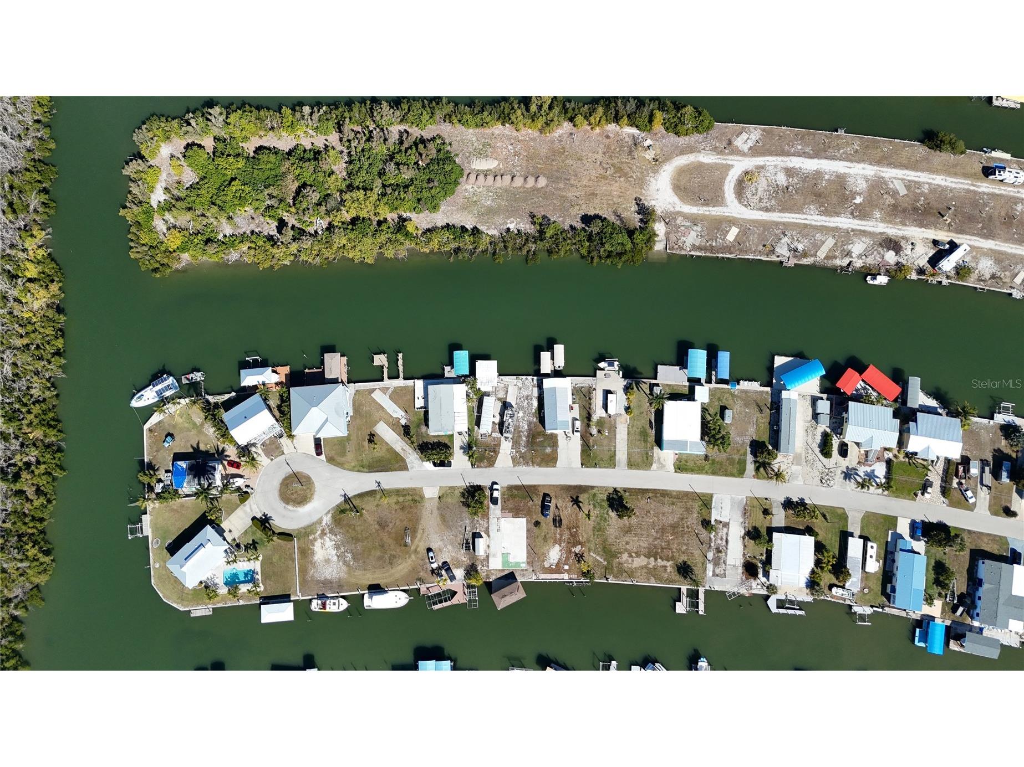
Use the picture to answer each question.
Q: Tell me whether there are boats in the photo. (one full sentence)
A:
Yes, a boat can be made out from above.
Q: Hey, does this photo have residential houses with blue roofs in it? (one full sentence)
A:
Yes, there's a residential house with a blue roof here.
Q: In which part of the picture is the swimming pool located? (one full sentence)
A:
The swimming pool appears toward the bottom left of the photo.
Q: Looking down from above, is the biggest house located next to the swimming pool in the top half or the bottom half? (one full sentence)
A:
The bottom half of the photo is where the biggest house located next to the swimming pool is.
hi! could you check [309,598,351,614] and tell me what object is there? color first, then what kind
white boat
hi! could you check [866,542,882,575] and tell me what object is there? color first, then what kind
white camper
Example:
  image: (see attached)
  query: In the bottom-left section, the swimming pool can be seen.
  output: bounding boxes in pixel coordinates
[223,568,255,588]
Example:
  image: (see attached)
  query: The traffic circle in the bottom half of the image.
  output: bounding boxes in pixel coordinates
[278,471,314,507]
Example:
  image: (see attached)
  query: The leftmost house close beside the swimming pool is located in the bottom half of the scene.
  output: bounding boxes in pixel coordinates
[166,525,236,589]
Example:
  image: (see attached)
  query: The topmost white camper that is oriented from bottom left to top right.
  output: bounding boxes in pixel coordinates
[939,238,979,272]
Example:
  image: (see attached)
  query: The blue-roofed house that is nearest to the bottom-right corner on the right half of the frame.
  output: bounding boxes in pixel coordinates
[884,539,927,612]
